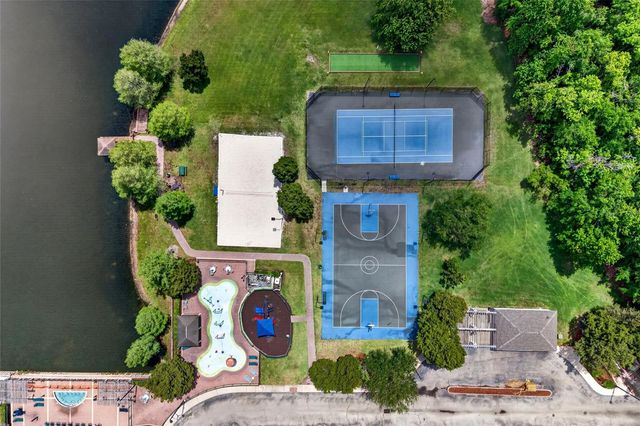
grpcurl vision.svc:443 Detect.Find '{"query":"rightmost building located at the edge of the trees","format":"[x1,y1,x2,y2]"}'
[490,307,557,351]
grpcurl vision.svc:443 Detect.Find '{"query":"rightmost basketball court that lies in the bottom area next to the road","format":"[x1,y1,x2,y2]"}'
[322,192,419,339]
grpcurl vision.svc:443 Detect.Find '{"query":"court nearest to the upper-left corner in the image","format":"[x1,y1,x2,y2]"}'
[217,134,283,247]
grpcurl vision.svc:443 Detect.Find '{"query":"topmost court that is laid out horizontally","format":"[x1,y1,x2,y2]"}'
[307,92,484,179]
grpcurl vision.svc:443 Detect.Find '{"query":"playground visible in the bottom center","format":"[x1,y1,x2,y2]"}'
[240,289,292,358]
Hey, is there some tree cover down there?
Yes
